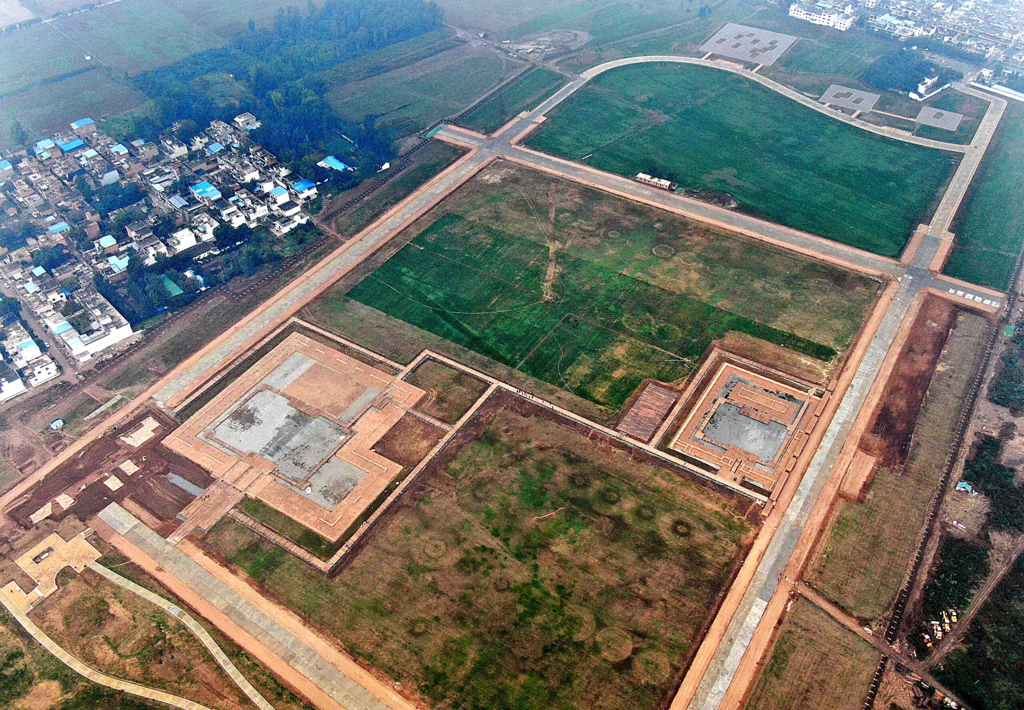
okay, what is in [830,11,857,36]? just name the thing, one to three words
house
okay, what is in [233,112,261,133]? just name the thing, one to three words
house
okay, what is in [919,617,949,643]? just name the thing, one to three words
work vehicle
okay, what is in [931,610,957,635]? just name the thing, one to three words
work vehicle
